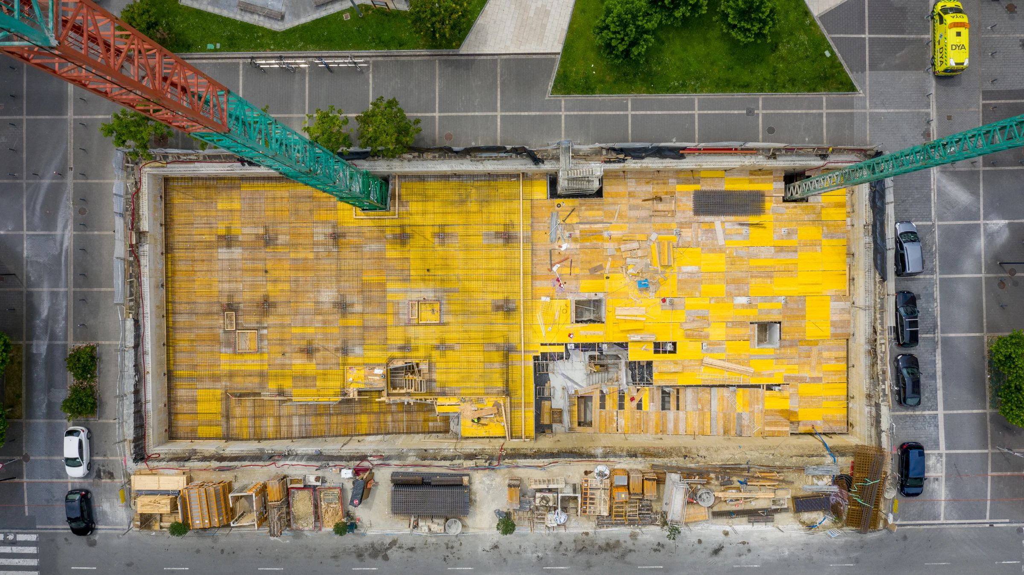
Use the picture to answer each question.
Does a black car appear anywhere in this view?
Yes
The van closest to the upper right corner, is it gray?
No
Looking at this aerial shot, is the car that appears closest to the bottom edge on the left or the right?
left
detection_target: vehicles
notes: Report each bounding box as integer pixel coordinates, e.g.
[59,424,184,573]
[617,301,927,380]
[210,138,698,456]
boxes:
[60,427,93,479]
[892,355,924,408]
[894,291,925,349]
[64,488,96,538]
[893,220,927,278]
[928,0,974,75]
[896,442,928,498]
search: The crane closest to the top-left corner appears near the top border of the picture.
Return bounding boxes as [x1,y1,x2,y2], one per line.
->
[0,0,394,213]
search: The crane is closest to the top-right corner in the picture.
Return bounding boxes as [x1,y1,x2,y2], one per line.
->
[782,110,1024,203]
